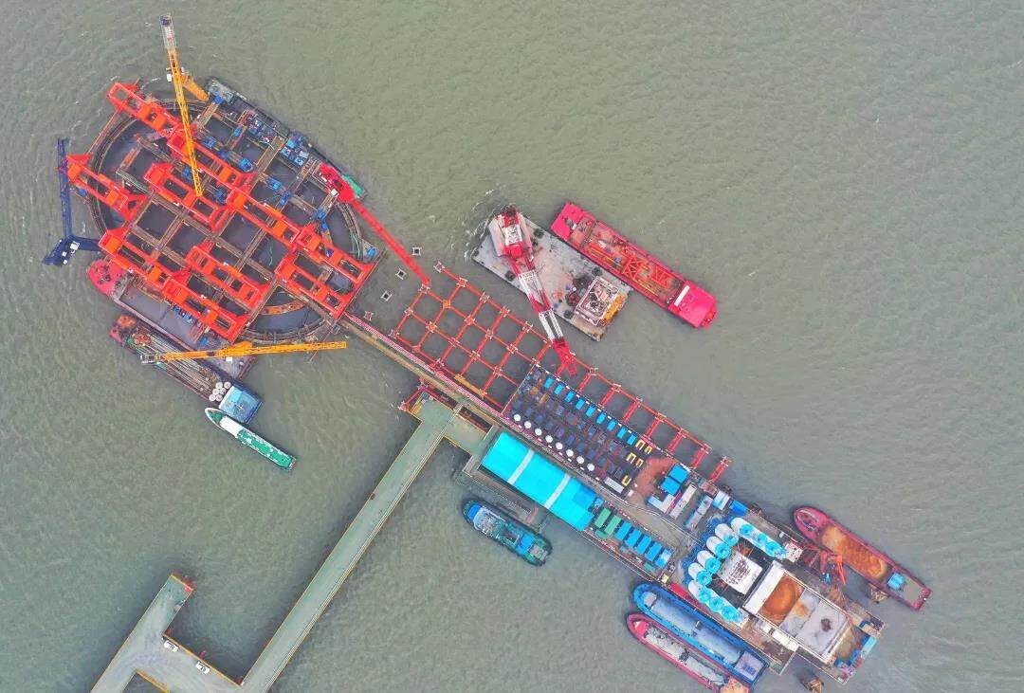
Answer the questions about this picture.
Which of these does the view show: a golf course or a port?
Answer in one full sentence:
The picture captures a port.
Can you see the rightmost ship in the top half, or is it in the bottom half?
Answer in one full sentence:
Seen from above, the rightmost ship lies in the bottom half of the view.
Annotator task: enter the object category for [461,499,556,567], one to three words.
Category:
boat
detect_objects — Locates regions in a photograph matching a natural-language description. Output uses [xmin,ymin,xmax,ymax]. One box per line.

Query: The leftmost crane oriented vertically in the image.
[41,138,103,268]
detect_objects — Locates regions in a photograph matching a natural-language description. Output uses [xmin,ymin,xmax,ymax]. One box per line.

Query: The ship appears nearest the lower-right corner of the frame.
[792,508,936,613]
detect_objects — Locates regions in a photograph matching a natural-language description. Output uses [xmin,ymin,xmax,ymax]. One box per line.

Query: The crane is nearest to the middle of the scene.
[497,203,583,387]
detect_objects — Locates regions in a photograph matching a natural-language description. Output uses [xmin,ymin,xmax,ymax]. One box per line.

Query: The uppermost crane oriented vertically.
[159,17,216,195]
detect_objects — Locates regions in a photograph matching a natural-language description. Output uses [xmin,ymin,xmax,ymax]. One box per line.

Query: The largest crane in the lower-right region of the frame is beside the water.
[803,543,846,588]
